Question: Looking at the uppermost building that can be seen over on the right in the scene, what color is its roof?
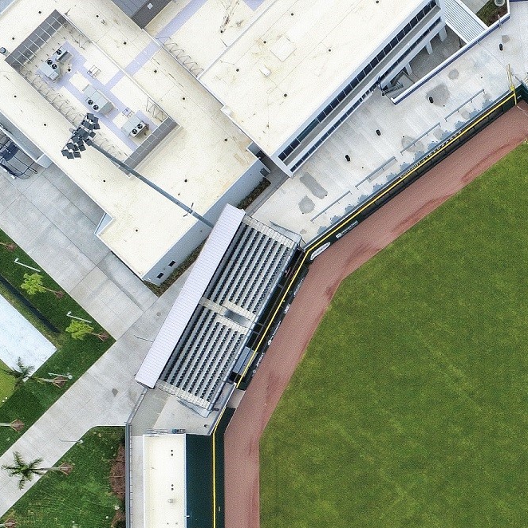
white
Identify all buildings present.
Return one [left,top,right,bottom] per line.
[0,0,273,283]
[199,0,453,186]
[145,433,211,528]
